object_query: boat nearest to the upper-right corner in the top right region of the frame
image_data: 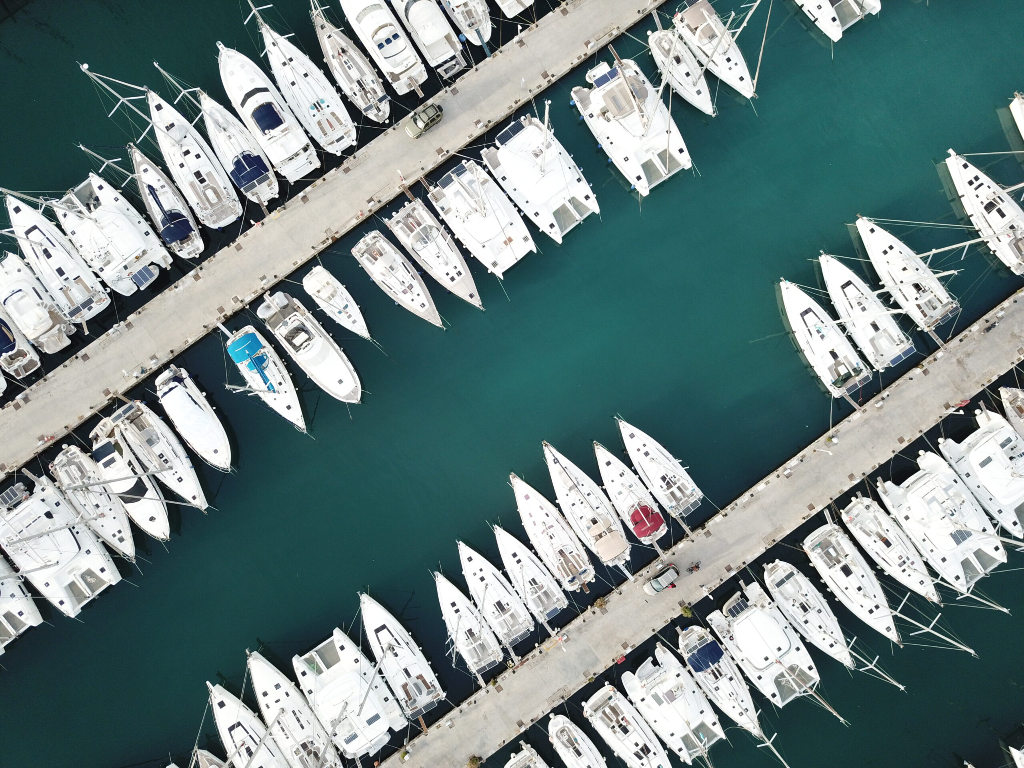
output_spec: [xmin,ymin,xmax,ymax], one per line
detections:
[993,90,1024,140]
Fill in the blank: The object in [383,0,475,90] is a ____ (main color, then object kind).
white boat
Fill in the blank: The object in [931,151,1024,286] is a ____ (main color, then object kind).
white boat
